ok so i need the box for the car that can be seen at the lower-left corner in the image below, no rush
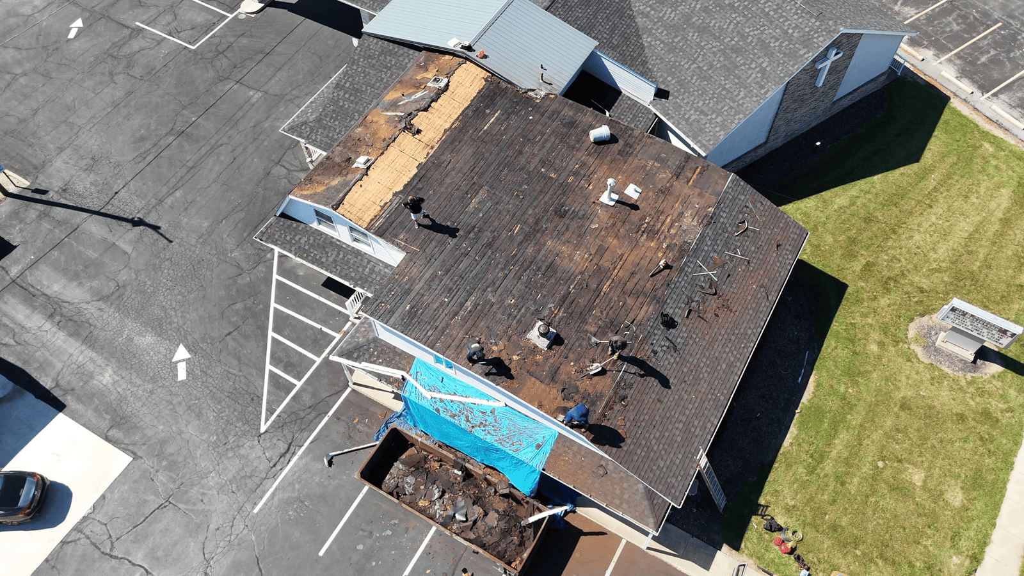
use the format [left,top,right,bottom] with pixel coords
[0,465,54,530]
